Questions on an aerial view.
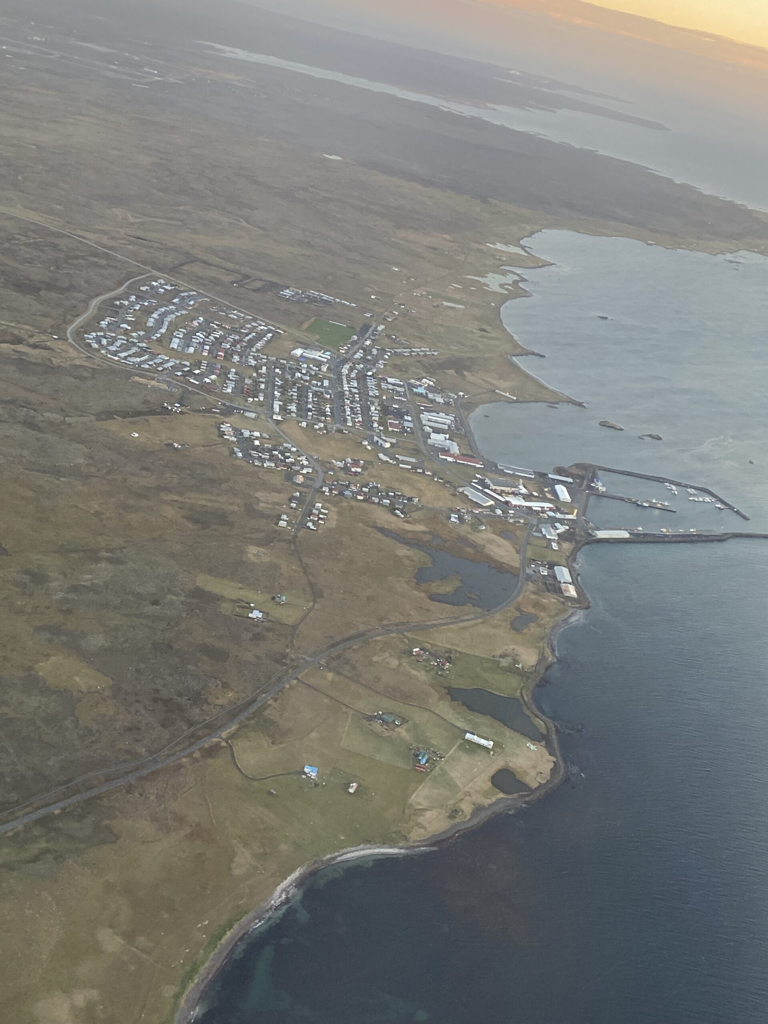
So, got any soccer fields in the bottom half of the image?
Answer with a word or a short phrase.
No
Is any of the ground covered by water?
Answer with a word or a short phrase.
Yes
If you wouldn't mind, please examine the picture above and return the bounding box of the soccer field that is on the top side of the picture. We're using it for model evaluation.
[305,318,358,347]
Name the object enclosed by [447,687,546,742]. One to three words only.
pond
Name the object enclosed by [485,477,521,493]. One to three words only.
building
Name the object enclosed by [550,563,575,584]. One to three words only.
building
